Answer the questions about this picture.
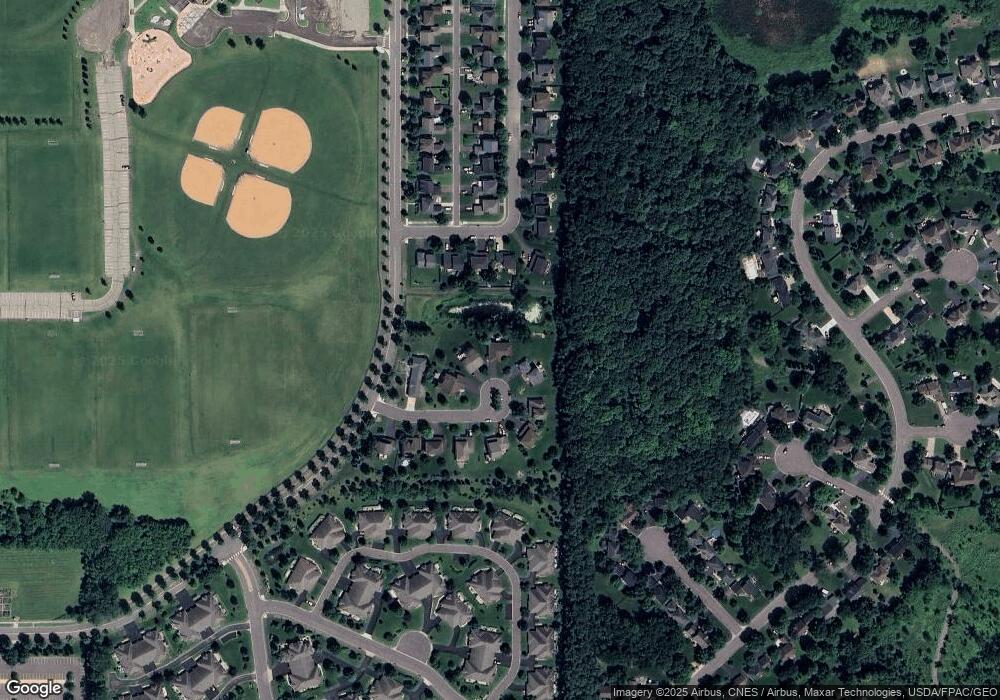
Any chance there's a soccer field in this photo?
Yes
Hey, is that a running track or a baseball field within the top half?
baseball field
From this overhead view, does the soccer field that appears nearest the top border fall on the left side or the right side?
left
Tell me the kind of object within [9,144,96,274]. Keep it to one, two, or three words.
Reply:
soccer field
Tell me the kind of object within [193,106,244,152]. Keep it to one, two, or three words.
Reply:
baseball field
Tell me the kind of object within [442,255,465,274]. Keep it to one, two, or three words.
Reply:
house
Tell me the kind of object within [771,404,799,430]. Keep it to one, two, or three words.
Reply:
house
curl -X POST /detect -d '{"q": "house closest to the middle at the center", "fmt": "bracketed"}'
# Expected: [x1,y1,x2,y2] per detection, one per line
[489,339,512,364]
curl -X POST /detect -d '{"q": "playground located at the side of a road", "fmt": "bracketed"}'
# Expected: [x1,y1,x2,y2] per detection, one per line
[128,29,192,104]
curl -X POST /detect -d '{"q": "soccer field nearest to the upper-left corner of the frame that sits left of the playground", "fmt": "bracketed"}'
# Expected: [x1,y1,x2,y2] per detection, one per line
[0,62,70,114]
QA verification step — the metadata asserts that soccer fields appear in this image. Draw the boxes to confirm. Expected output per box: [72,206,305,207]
[9,144,96,274]
[10,334,92,465]
[100,334,176,465]
[192,312,280,444]
[0,62,70,114]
